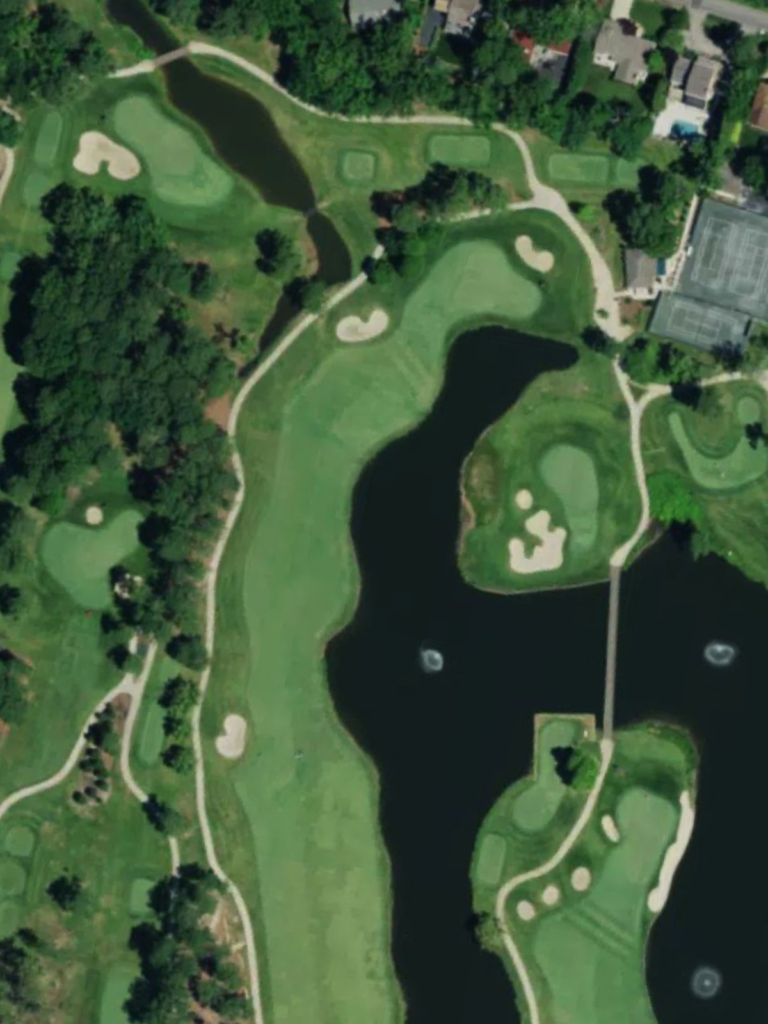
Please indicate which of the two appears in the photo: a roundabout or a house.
house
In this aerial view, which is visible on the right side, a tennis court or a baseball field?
tennis court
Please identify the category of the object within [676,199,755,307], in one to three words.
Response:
tennis court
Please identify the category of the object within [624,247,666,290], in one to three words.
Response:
building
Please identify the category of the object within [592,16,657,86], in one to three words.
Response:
house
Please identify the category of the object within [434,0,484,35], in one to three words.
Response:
house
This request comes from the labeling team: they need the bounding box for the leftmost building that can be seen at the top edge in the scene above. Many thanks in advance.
[344,0,399,28]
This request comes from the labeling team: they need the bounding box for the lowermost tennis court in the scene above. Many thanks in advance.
[650,293,753,359]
